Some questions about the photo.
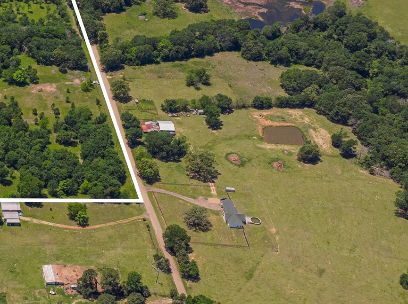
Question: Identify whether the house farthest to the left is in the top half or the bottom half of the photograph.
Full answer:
The house farthest to the left is in the bottom half of the image.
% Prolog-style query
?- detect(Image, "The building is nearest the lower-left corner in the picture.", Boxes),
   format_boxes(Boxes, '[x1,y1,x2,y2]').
[41,265,64,288]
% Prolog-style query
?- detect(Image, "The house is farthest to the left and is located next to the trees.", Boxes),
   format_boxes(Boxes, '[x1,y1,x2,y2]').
[0,197,23,228]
